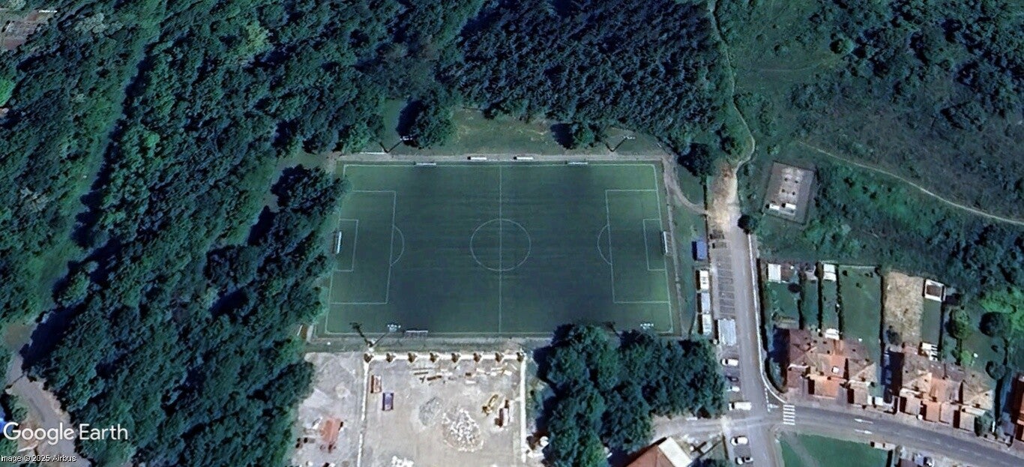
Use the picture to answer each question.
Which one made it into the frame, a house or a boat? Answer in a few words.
house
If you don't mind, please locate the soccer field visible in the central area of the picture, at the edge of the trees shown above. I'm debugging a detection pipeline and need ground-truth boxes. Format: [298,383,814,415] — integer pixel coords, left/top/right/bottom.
[315,160,685,341]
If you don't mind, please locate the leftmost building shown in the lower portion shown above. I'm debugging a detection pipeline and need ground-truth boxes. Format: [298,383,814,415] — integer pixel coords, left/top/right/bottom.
[622,437,693,467]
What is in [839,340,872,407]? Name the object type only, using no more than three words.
house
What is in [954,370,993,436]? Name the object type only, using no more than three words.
house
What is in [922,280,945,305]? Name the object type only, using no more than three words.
building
